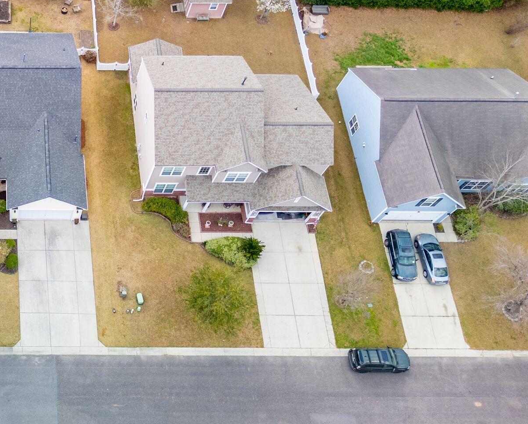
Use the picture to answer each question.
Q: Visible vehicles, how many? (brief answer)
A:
3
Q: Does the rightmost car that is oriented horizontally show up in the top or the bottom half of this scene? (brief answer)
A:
bottom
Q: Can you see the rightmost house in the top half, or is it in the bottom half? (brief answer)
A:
top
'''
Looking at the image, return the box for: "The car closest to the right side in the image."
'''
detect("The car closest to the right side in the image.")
[413,234,456,288]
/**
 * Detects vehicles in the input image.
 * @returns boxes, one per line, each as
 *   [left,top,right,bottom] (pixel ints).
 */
[344,346,411,377]
[381,229,420,285]
[413,234,456,288]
